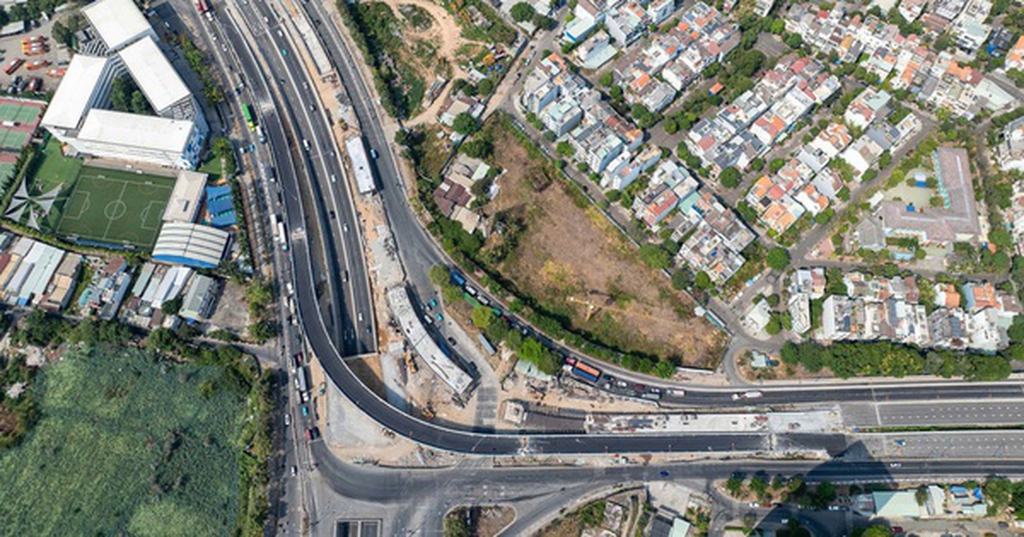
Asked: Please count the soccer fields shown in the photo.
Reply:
1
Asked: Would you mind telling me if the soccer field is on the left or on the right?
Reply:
left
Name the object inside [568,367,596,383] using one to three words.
vehicle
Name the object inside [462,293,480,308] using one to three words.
vehicle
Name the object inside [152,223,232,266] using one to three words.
building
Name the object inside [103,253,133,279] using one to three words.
shed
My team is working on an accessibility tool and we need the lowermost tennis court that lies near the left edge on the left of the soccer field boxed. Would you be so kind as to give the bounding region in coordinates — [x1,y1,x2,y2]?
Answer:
[0,152,26,182]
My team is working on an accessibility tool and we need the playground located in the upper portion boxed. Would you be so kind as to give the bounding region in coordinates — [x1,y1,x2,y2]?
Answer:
[885,167,938,213]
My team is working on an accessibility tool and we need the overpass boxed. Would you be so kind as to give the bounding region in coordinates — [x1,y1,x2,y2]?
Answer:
[211,0,846,457]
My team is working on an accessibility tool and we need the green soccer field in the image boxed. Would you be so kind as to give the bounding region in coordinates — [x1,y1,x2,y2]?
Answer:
[49,164,178,252]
